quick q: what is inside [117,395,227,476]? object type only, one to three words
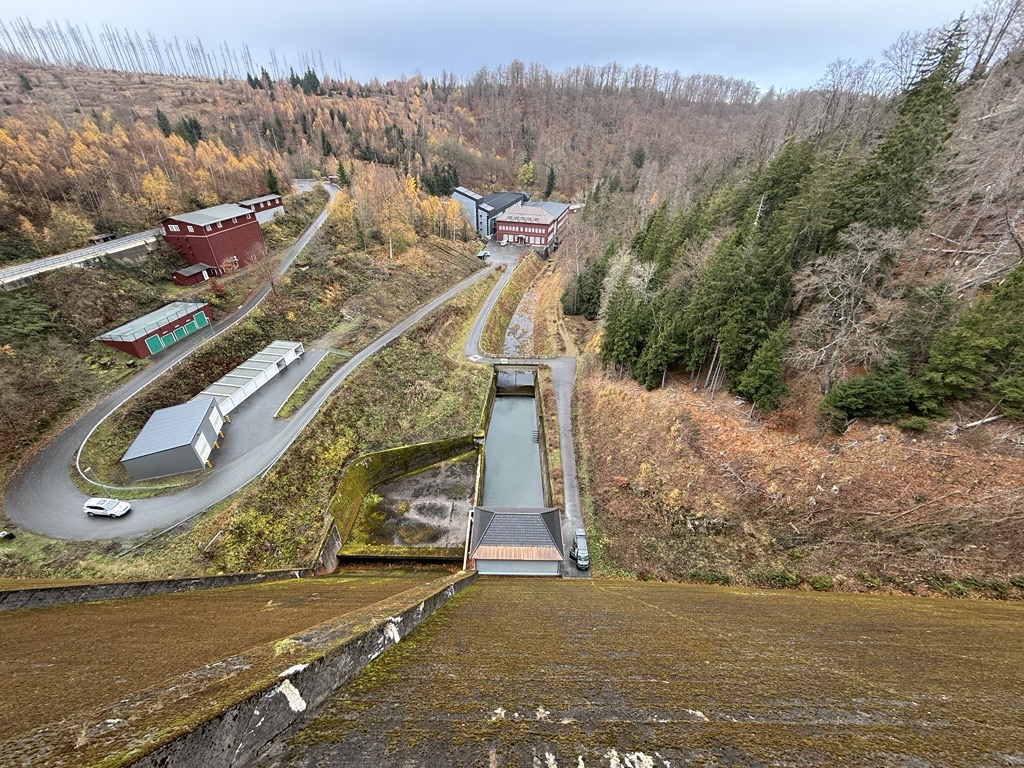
building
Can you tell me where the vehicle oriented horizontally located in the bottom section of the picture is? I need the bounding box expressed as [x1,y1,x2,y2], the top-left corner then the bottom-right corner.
[78,497,129,522]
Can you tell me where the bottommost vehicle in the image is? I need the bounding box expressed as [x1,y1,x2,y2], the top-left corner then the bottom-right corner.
[569,532,593,569]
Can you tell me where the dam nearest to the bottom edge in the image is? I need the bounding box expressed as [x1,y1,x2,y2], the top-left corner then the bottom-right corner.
[0,566,1024,768]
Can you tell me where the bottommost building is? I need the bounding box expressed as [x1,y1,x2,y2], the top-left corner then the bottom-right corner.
[469,507,568,575]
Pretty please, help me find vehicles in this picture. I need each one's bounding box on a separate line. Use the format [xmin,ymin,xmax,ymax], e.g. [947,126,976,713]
[78,497,129,522]
[569,532,593,569]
